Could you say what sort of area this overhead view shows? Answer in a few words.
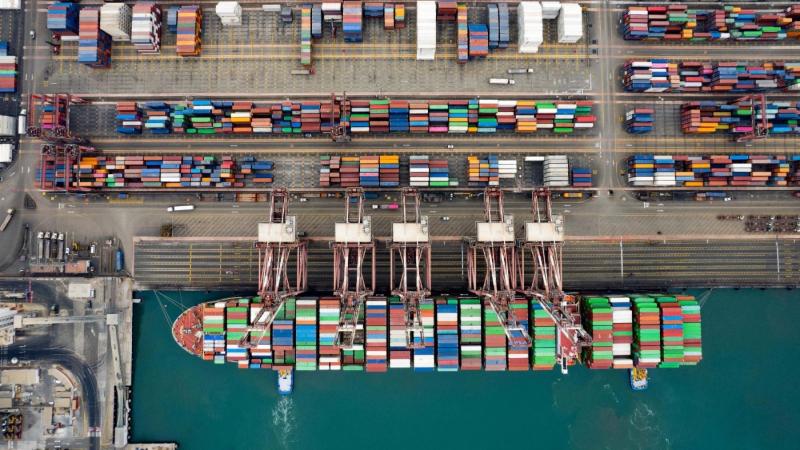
port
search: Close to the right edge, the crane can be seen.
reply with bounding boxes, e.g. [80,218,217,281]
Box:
[724,92,767,141]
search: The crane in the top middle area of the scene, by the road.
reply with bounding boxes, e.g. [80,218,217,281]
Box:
[330,92,353,141]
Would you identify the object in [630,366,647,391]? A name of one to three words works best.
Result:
boat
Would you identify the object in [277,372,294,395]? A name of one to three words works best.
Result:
boat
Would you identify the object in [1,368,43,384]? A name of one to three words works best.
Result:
building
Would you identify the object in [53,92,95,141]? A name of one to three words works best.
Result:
container crane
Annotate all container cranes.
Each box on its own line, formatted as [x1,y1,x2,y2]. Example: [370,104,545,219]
[330,92,353,141]
[234,184,315,348]
[64,145,105,191]
[388,184,434,348]
[40,145,82,191]
[724,92,767,141]
[462,184,531,348]
[505,184,593,348]
[53,92,95,141]
[26,92,70,141]
[330,184,380,348]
